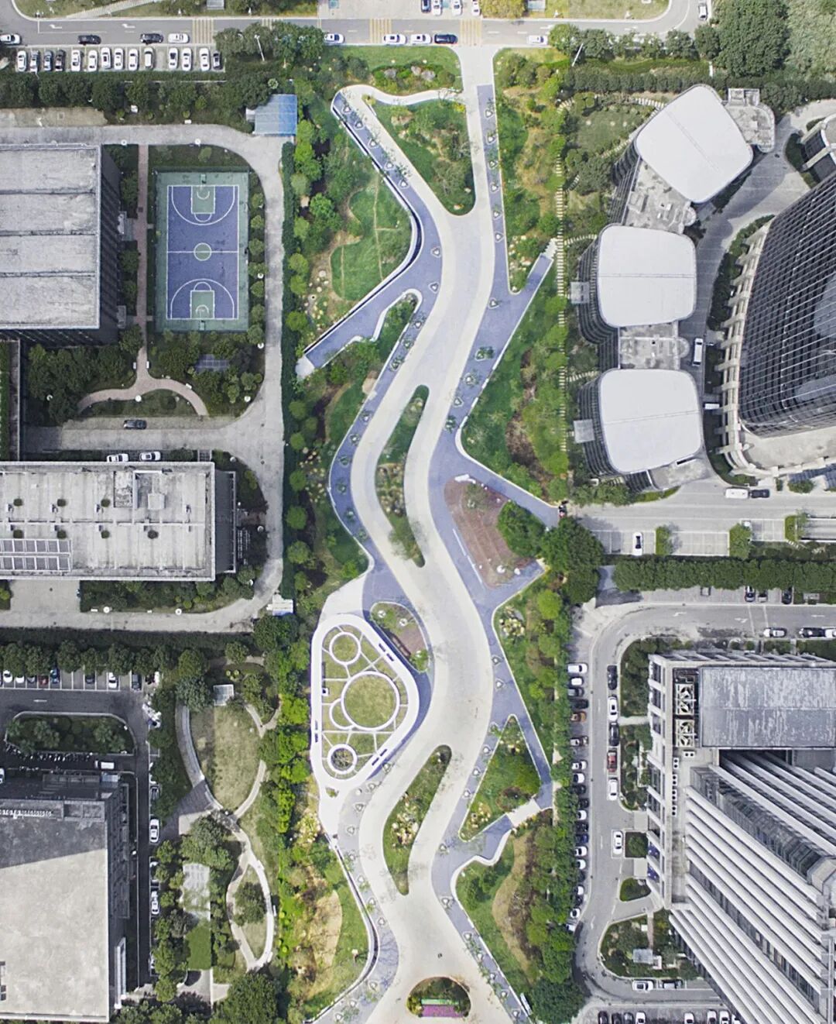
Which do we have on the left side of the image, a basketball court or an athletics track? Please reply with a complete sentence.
Looking on the left side of the image, you will find a basketball court.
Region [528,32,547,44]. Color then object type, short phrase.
white vehicle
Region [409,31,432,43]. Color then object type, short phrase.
white vehicle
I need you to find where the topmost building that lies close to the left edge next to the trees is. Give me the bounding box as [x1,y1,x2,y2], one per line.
[0,144,125,343]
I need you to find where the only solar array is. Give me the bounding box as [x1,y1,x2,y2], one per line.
[0,539,69,571]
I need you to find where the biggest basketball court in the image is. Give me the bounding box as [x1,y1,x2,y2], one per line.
[156,172,247,330]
